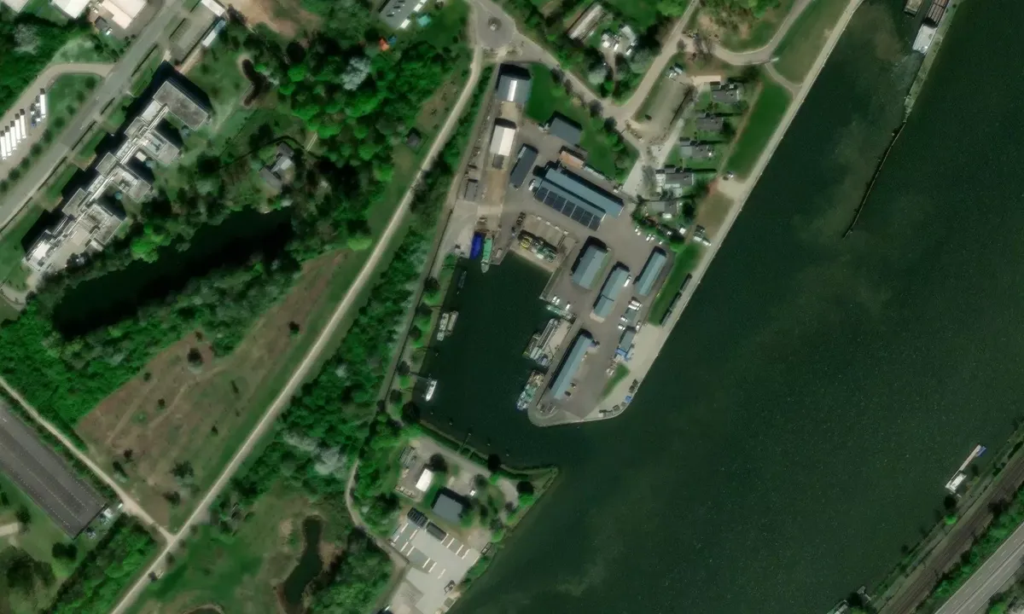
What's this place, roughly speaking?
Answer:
port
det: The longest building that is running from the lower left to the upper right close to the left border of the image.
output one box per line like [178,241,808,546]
[25,77,215,271]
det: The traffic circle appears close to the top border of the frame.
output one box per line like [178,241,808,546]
[476,0,516,48]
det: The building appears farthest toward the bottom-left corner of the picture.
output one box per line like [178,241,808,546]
[0,396,107,538]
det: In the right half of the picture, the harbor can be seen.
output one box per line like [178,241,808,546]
[430,0,864,426]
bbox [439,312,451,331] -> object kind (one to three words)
boat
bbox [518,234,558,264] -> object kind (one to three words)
ship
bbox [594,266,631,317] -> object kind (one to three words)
building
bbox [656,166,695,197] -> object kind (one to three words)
house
